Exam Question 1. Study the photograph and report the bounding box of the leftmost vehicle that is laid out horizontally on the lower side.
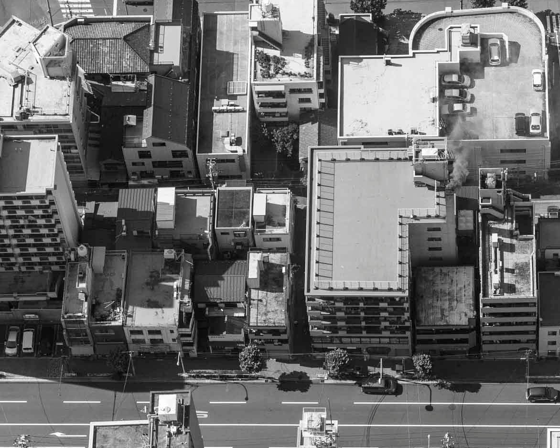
[364,377,400,396]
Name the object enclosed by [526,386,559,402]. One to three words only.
car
